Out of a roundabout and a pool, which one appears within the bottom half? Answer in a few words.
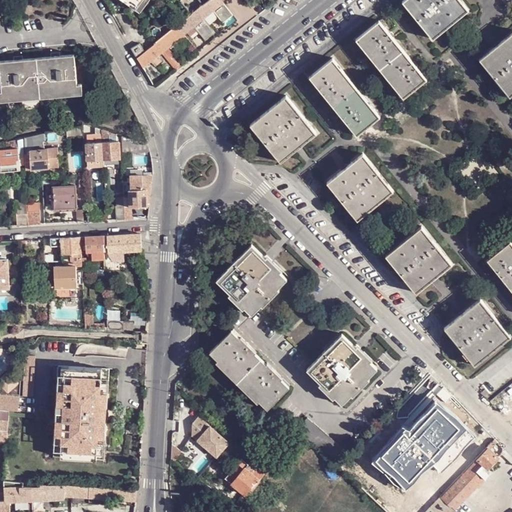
pool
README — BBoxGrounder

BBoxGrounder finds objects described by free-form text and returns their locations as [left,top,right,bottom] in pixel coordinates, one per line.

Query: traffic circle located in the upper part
[168,138,234,204]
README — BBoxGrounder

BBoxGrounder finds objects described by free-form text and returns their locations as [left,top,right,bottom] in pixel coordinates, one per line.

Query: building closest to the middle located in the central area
[216,243,288,318]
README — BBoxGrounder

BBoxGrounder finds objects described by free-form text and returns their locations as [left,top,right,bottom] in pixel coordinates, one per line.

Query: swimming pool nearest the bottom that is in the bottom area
[188,440,211,474]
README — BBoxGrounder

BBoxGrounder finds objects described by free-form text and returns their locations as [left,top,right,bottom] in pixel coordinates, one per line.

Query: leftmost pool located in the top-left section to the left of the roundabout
[46,130,62,147]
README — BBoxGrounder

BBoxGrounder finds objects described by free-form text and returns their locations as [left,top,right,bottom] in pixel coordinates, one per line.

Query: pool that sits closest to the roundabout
[132,154,149,168]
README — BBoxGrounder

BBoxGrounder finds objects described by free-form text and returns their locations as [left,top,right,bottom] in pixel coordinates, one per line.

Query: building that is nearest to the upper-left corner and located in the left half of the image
[0,52,84,108]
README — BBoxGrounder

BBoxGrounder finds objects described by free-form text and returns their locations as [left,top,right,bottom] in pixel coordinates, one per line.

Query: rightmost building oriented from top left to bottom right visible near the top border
[356,18,427,100]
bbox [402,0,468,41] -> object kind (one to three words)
building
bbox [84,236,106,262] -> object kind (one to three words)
house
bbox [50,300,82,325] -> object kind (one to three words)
swimming pool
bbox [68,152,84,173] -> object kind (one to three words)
swimming pool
